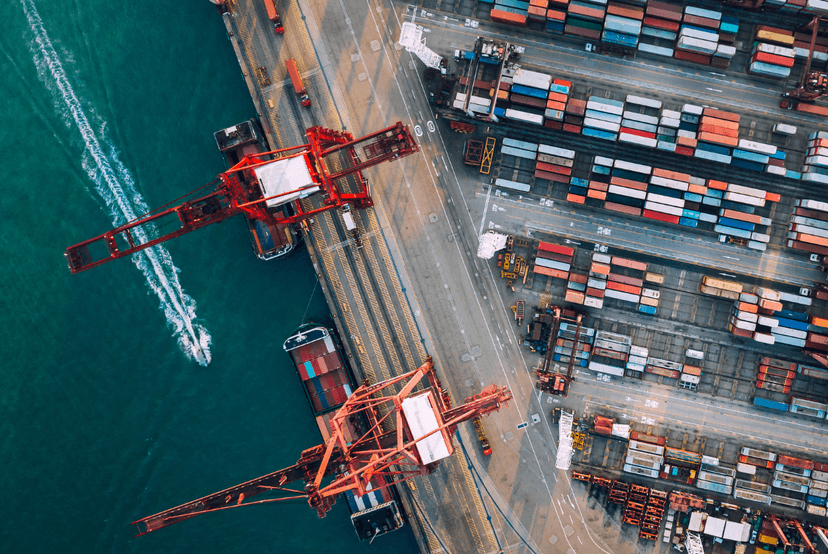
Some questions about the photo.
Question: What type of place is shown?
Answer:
port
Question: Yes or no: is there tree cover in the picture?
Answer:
No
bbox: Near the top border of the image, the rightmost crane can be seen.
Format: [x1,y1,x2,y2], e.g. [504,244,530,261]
[771,14,828,116]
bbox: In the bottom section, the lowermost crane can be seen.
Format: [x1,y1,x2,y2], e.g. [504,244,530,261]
[132,352,517,539]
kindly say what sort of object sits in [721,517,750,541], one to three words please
shed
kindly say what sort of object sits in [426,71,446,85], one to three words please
vehicle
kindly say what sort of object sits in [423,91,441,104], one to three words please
vehicle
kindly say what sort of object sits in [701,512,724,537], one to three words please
shed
